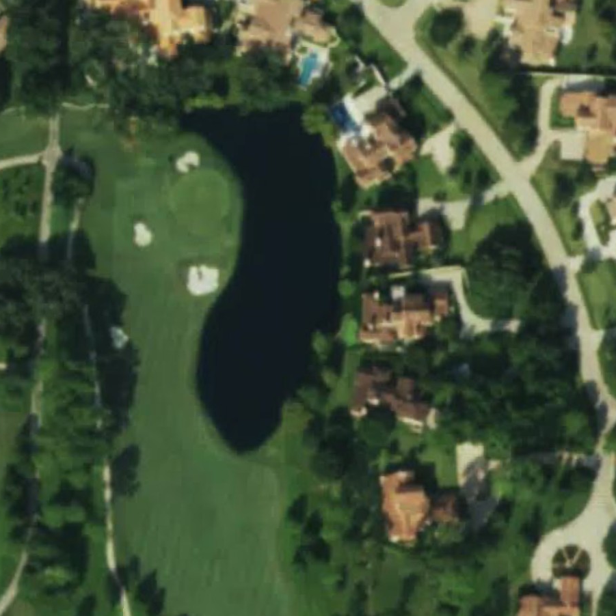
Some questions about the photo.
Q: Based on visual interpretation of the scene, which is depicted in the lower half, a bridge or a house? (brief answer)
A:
house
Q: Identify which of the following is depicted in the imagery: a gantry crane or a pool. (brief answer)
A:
pool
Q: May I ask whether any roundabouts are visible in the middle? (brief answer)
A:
No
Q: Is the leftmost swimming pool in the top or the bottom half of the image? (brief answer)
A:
top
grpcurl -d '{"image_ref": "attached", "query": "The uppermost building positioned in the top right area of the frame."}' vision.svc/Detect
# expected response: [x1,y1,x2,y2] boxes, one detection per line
[506,0,579,64]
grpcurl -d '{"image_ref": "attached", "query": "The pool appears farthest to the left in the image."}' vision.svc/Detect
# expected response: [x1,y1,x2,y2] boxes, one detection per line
[298,44,330,89]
